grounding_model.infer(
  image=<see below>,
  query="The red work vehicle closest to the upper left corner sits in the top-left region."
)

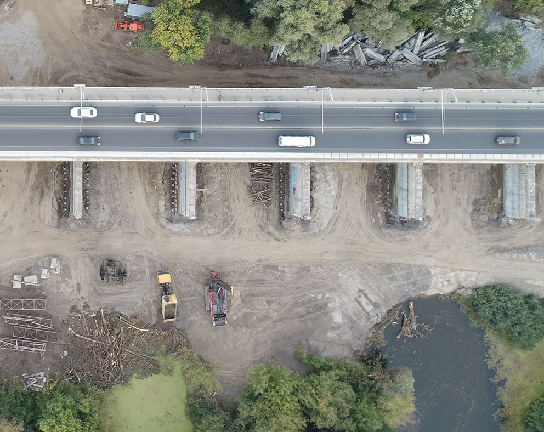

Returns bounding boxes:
[112,20,144,32]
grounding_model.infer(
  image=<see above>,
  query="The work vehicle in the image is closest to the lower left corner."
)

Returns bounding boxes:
[102,261,128,283]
